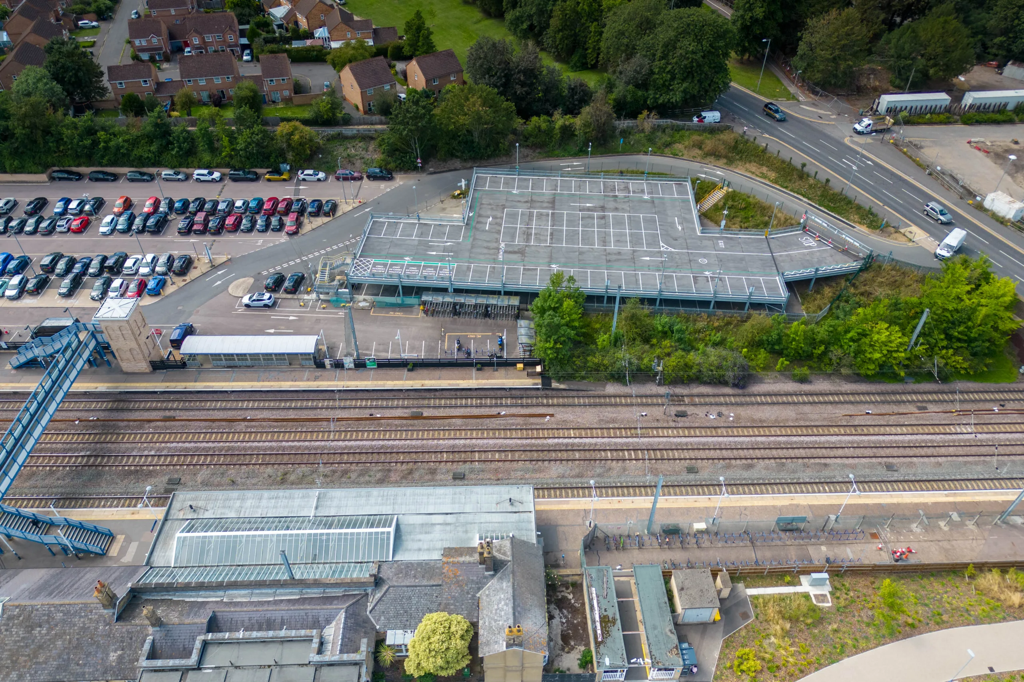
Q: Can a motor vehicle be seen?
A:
Yes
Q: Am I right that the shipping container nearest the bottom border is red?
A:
No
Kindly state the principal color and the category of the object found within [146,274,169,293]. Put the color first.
blue car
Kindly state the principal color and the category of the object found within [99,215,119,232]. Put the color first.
white car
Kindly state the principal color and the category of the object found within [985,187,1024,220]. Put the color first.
white shipping container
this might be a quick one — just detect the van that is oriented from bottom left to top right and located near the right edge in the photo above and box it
[940,222,975,256]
